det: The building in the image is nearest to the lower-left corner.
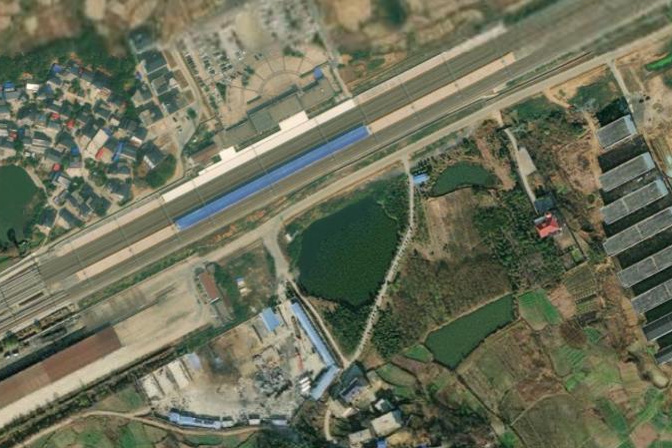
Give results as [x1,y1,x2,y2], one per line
[0,323,122,408]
